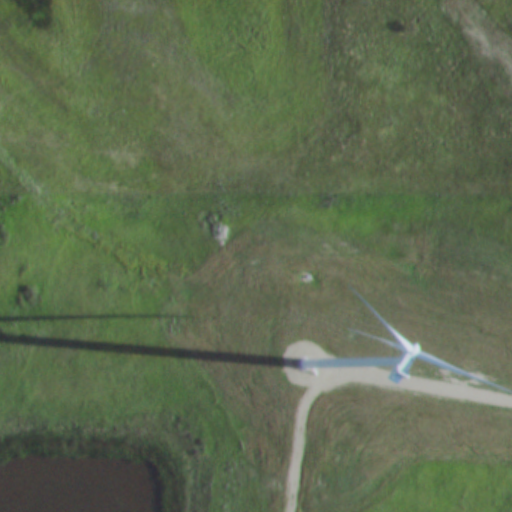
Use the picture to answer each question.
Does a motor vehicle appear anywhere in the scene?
No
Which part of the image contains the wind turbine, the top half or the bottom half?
bottom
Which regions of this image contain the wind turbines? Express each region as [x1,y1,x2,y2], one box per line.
[300,284,512,390]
